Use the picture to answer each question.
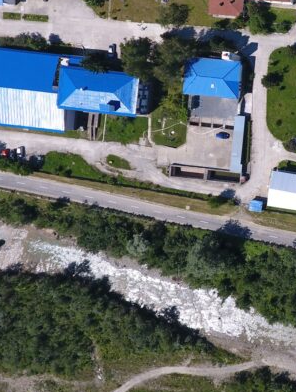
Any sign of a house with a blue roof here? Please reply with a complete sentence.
Yes, a house with a blue roof is visible in the scene.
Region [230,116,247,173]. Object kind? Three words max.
shed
